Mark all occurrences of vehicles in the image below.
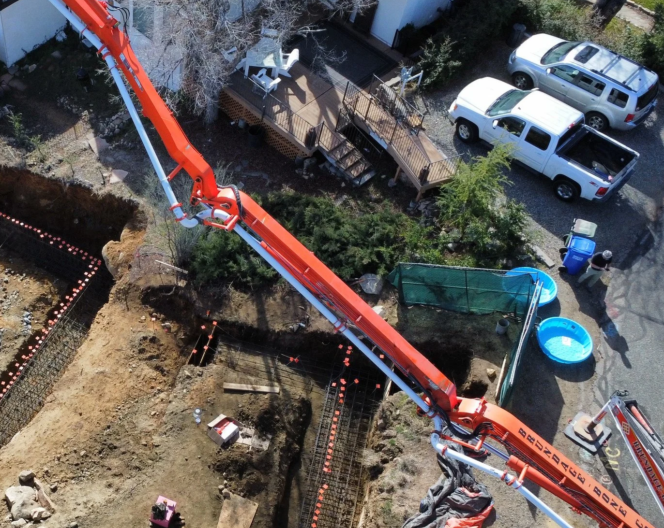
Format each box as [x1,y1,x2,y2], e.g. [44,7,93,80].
[507,30,664,137]
[48,0,664,528]
[444,74,649,221]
